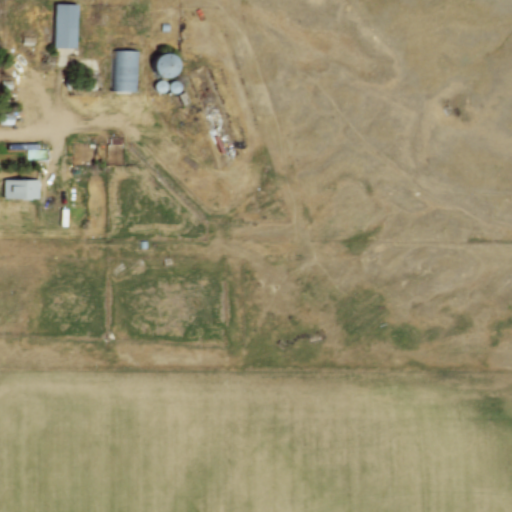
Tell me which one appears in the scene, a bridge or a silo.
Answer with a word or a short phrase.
silo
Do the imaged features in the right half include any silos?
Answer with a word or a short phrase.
No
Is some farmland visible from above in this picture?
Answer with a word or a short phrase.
Yes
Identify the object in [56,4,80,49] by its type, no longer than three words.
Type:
shed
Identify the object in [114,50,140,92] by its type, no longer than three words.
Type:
barn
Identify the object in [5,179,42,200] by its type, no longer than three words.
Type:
house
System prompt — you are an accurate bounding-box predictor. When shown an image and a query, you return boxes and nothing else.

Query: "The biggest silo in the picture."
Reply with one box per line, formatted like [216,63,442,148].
[156,53,184,82]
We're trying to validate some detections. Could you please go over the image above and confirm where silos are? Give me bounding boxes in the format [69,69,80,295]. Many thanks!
[156,53,184,82]
[170,80,185,96]
[156,80,170,96]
